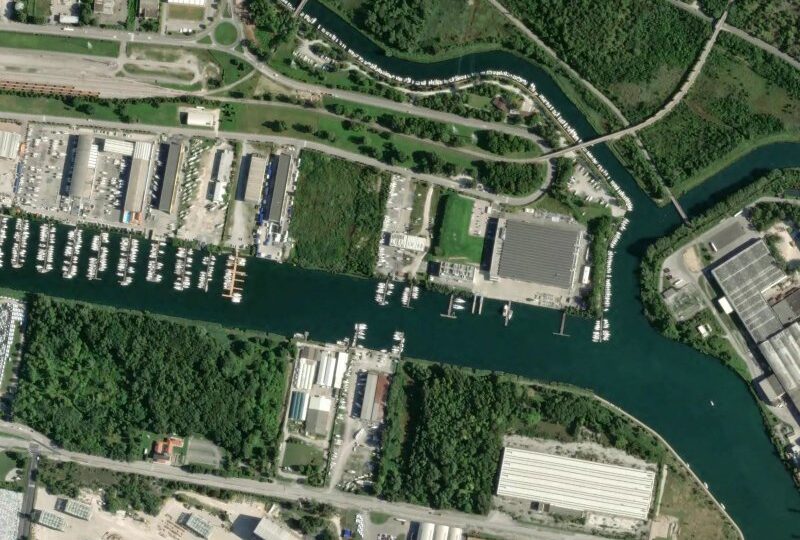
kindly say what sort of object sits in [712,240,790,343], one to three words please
building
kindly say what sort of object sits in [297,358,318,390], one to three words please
shed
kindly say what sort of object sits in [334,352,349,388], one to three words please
shed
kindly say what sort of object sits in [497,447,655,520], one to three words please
building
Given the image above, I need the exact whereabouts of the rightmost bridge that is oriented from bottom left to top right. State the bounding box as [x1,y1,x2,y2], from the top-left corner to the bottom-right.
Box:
[539,0,734,162]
